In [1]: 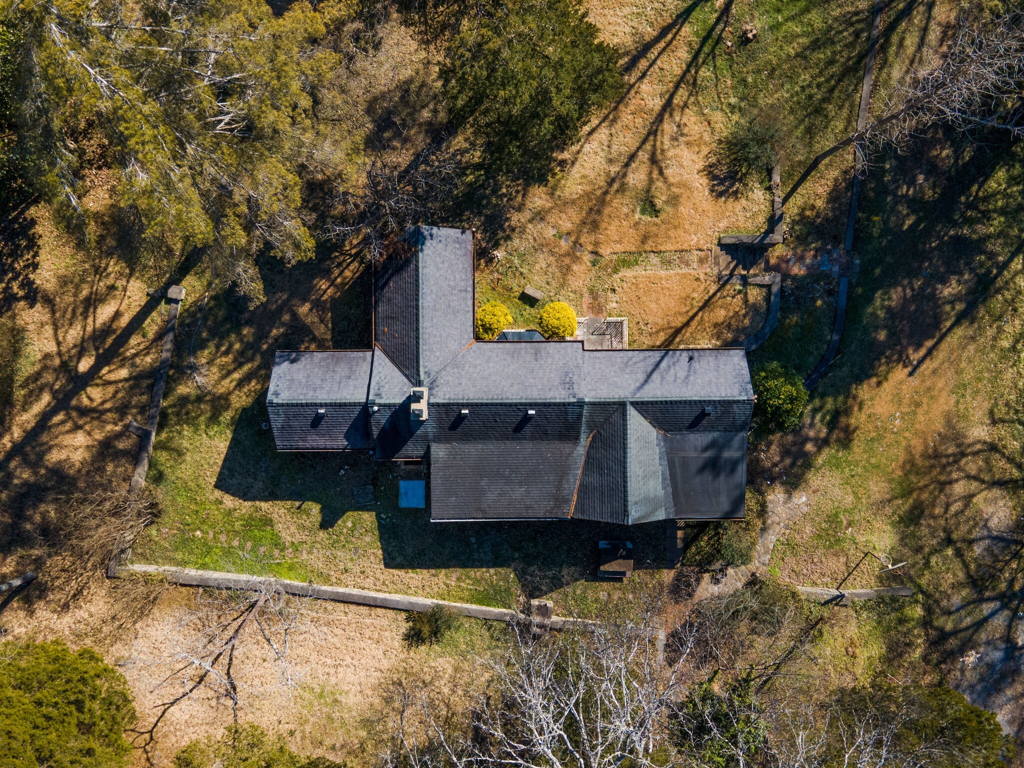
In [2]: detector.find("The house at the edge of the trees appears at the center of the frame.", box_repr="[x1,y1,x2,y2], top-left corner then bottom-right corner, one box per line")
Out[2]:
[264,225,757,526]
